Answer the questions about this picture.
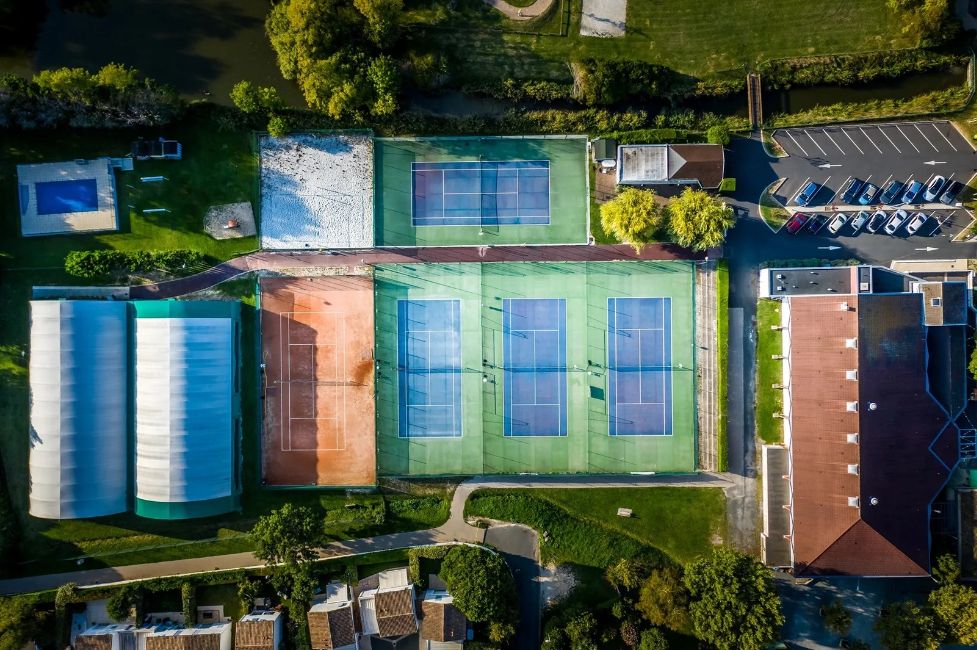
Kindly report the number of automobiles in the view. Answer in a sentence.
In total, there are 14 automobiles in the scene.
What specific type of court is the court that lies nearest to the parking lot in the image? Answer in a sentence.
The court that lies nearest to the parking lot in the image is a tennis court.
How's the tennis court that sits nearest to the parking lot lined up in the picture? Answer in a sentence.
The tennis court that sits nearest to the parking lot is laid out from top to bottom.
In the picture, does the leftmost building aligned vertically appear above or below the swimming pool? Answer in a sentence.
In the image, the leftmost building aligned vertically appears below the swimming pool.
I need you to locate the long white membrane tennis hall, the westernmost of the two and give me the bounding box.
[29,299,129,519]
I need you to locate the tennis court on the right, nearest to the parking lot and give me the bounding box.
[589,261,695,472]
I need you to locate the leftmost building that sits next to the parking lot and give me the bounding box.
[615,143,725,189]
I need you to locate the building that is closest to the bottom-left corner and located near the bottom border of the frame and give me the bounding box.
[73,621,125,650]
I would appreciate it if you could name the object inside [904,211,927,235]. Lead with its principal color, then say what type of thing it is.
white car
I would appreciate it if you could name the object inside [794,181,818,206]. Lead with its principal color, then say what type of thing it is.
blue car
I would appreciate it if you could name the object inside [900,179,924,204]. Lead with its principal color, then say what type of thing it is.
blue car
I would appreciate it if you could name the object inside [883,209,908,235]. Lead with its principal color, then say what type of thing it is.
white car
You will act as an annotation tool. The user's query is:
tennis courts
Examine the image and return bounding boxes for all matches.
[375,136,588,246]
[260,277,377,487]
[589,261,695,472]
[483,262,590,473]
[375,262,484,475]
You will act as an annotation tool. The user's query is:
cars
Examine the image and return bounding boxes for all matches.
[940,179,965,204]
[805,212,827,236]
[879,178,904,204]
[923,176,947,201]
[864,209,889,234]
[849,210,870,232]
[858,182,879,205]
[900,179,924,204]
[794,181,818,206]
[825,211,847,234]
[786,212,809,235]
[883,209,908,235]
[904,211,927,235]
[839,177,864,203]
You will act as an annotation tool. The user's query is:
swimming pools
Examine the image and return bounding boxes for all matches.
[16,157,135,237]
